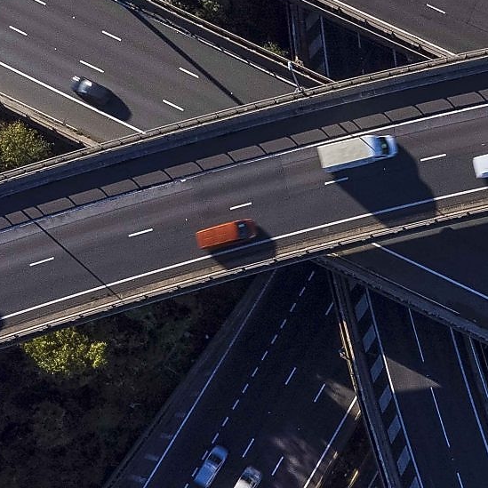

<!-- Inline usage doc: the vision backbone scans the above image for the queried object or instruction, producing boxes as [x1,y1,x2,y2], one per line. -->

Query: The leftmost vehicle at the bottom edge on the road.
[198,445,235,488]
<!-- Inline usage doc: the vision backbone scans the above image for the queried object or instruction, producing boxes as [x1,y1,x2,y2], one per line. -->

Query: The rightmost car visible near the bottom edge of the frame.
[237,468,262,488]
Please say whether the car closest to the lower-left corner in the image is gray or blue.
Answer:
blue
